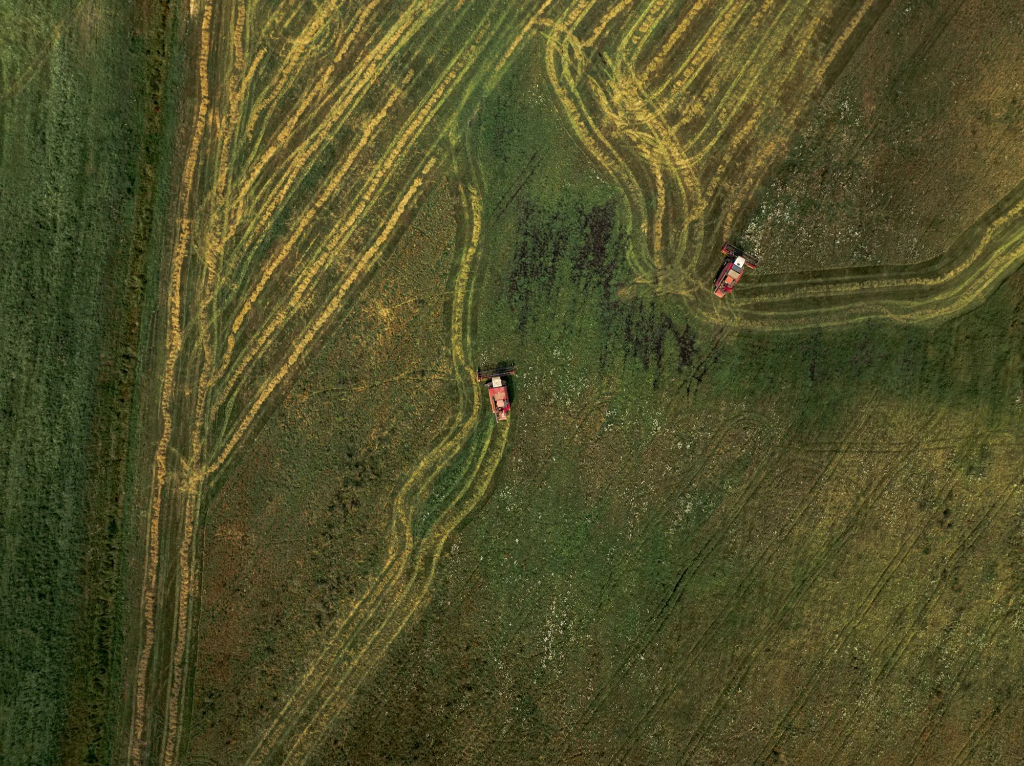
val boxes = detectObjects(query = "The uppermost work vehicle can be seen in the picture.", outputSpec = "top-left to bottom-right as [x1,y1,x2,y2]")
[711,240,760,301]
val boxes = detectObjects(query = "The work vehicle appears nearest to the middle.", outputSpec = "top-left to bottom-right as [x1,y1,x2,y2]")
[474,360,516,426]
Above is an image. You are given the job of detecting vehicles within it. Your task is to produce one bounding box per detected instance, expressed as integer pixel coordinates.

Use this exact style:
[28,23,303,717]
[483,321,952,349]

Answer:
[474,360,516,426]
[711,240,760,301]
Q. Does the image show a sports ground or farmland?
farmland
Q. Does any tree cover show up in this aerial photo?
No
